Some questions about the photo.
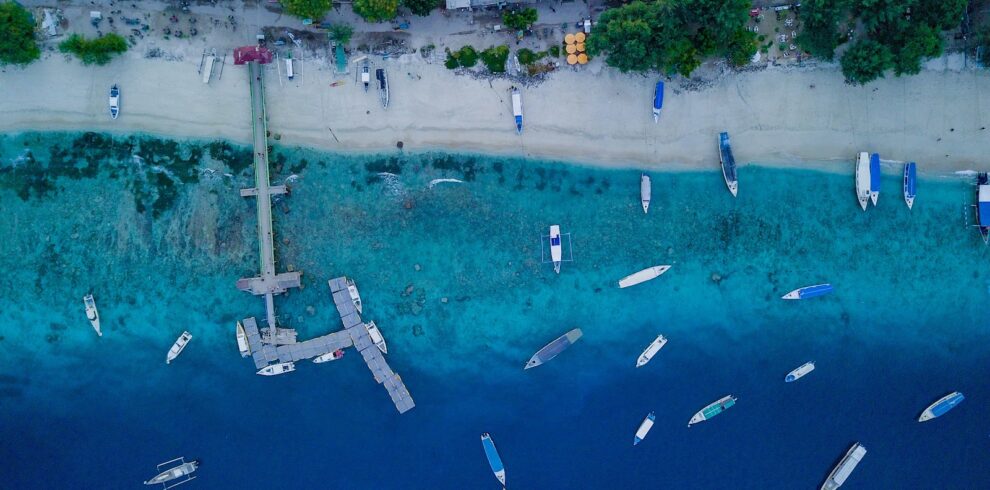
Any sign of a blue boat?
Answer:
Yes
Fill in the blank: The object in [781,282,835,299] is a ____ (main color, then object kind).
blue boat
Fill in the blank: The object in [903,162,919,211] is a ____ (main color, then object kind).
blue boat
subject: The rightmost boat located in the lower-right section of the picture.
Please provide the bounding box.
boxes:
[917,391,969,422]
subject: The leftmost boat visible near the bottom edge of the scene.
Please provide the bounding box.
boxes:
[144,455,198,488]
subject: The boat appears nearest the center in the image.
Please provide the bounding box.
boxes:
[539,224,564,274]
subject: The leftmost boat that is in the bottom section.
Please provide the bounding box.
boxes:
[84,294,102,337]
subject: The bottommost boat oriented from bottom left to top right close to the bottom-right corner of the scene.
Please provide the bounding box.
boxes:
[821,440,869,490]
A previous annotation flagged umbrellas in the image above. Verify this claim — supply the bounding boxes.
[577,53,588,64]
[565,34,575,43]
[576,43,585,52]
[567,54,577,65]
[566,43,576,54]
[574,32,585,43]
